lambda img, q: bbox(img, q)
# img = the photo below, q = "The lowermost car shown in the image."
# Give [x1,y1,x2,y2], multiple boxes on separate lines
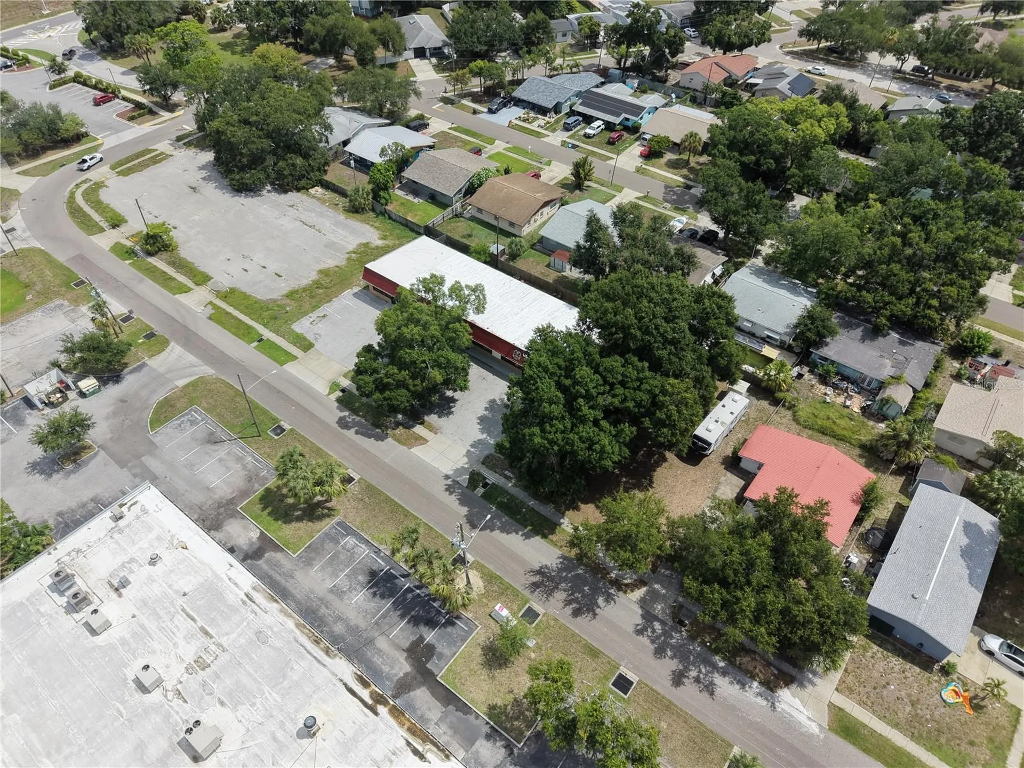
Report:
[983,635,1024,673]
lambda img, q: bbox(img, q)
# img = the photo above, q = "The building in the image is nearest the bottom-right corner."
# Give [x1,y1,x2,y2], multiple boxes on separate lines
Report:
[864,485,1010,661]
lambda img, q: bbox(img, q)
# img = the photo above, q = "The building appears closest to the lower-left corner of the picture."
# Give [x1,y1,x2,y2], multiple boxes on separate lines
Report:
[0,480,464,768]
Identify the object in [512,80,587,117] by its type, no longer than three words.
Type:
house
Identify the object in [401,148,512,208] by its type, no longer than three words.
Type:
house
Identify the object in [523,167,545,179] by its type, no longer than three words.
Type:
vehicle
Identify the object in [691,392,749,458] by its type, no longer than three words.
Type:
vehicle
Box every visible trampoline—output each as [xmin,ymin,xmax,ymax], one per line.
[862,522,901,557]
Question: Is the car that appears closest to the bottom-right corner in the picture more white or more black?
white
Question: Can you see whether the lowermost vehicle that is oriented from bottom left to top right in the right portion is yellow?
No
